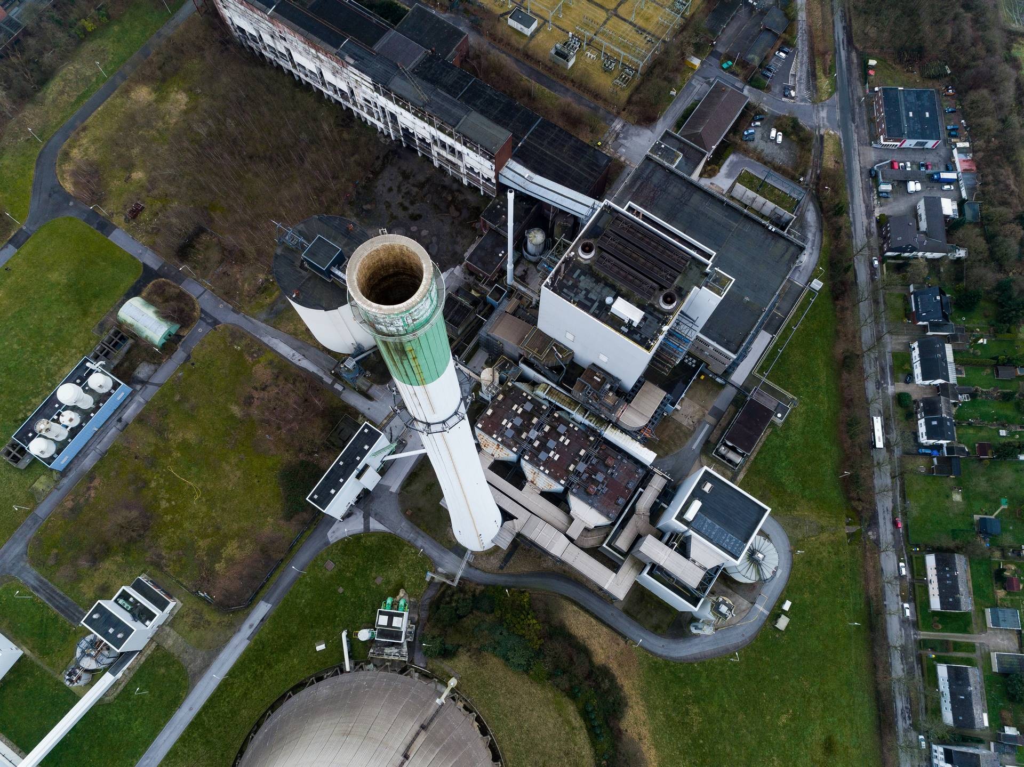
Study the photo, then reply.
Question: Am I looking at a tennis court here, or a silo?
silo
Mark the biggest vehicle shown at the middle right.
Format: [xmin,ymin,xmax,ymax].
[872,414,887,448]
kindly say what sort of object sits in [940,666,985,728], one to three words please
house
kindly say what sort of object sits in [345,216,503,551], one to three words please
chimney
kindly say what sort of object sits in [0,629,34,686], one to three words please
shed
